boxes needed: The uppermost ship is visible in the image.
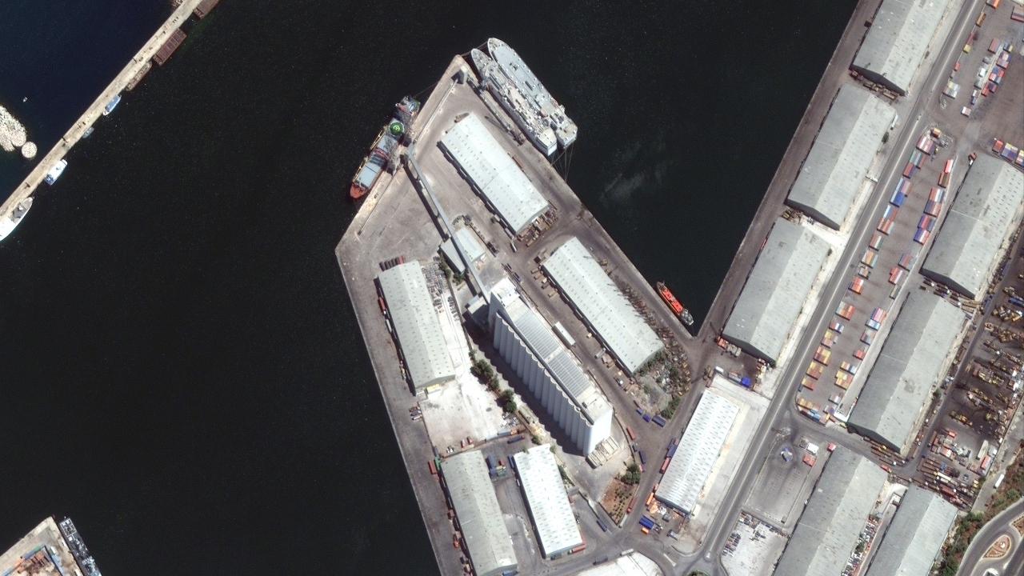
[194,0,222,21]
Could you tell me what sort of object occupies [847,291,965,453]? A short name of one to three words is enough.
warehouse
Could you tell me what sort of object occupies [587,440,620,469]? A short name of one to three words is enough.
shed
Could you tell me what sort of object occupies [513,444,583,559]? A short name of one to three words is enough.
building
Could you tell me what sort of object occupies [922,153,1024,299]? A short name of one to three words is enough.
building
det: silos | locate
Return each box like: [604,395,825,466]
[489,277,617,458]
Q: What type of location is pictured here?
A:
port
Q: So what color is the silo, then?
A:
white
